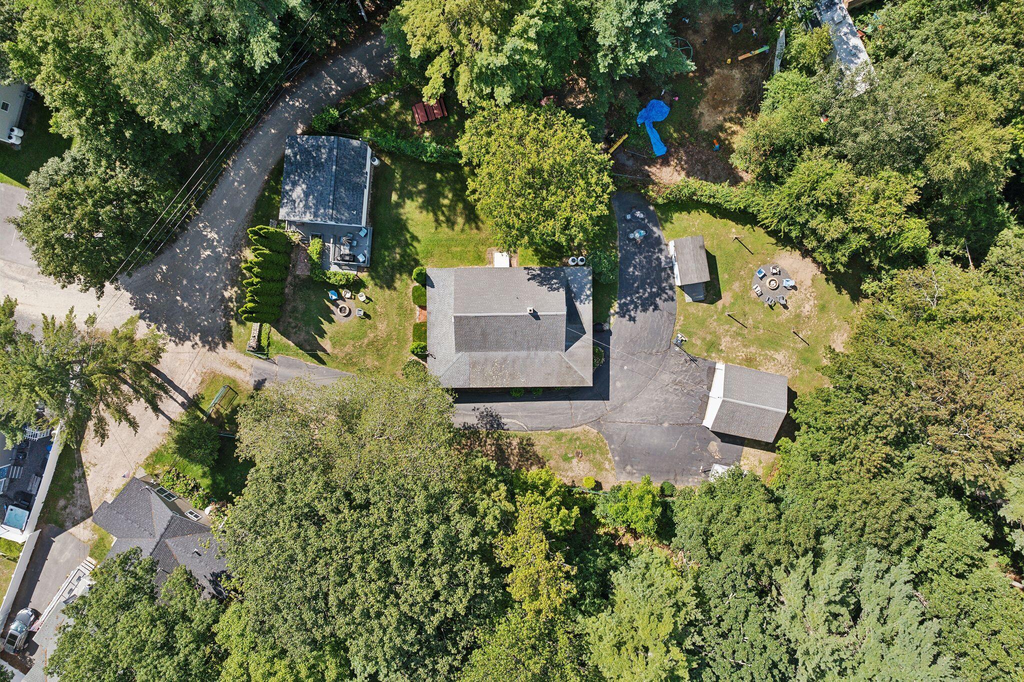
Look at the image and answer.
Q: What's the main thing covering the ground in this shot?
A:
trees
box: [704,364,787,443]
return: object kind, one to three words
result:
building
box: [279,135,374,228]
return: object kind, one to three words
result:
house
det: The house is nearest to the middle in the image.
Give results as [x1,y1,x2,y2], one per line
[427,252,593,388]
